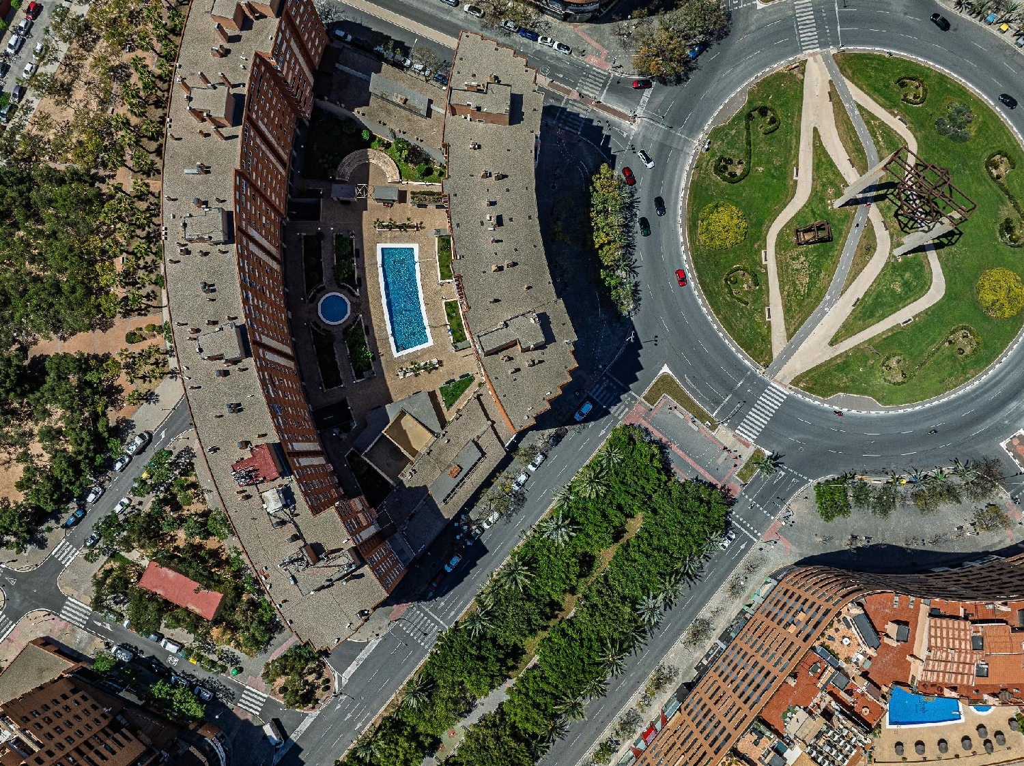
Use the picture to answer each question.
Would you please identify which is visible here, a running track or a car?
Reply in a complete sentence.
The image shows a car.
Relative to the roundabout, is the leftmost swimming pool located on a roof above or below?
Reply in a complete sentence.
Relative to the roundabout, the leftmost swimming pool located on a roof lies below it.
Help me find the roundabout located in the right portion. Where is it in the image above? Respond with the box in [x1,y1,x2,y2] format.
[678,50,1024,414]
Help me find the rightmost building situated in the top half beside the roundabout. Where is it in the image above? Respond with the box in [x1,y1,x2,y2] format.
[442,30,578,435]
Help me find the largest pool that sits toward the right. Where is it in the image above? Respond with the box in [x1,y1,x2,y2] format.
[886,684,965,728]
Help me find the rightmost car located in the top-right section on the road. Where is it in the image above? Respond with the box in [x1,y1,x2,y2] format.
[998,91,1021,109]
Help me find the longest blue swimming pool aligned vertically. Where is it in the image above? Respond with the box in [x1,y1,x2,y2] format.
[377,243,433,357]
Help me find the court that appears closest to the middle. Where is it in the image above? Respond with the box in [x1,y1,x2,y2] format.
[382,407,438,459]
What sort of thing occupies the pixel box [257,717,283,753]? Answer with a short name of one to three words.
truck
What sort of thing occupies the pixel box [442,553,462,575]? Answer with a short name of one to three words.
car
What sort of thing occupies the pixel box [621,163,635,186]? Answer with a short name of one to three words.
car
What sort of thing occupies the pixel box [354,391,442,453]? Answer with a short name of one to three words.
building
